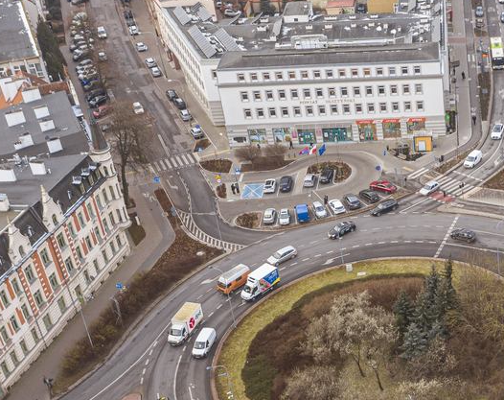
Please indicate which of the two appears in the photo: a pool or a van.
van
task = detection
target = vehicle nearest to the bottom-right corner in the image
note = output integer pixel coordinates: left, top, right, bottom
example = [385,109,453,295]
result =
[447,226,479,242]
